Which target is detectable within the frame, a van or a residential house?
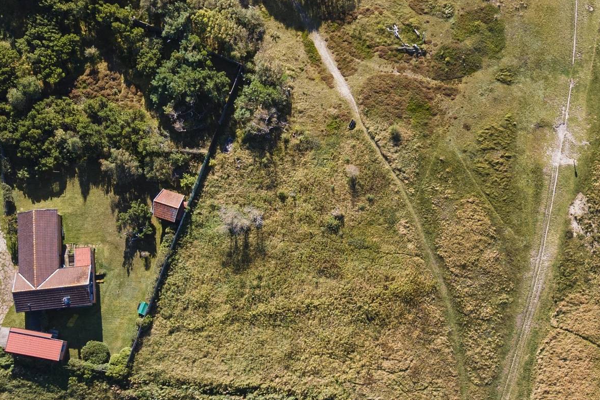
residential house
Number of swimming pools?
0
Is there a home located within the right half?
No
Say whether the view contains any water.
No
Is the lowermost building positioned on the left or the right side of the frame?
left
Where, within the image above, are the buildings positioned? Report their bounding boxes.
[153,189,186,222]
[4,327,71,361]
[11,209,100,312]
